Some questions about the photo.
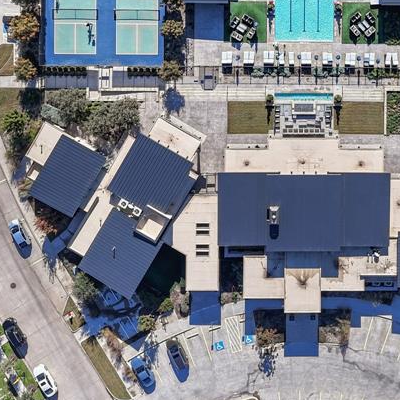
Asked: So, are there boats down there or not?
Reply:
No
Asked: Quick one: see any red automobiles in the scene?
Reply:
No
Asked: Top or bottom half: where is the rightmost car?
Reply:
bottom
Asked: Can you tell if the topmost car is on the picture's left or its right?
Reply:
left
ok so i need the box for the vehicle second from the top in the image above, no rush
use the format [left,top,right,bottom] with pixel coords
[1,319,26,353]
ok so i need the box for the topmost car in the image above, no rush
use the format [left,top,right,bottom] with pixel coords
[6,219,31,252]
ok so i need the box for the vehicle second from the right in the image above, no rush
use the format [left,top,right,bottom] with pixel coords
[130,357,156,394]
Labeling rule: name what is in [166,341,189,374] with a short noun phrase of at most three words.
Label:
car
